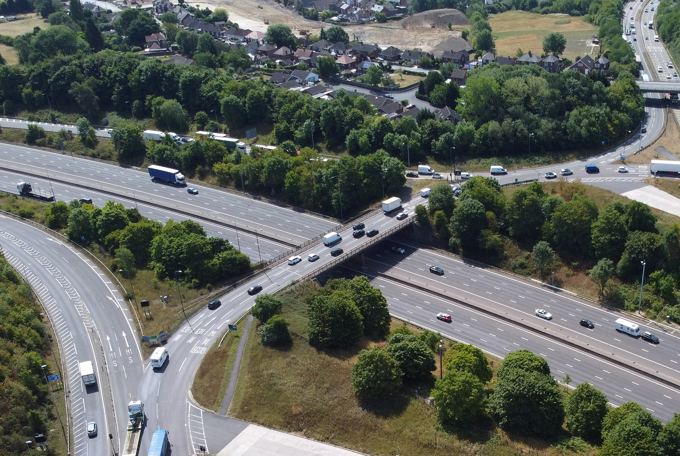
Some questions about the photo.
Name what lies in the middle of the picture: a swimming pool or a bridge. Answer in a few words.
bridge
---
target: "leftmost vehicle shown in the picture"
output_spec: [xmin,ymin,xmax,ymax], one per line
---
[14,184,52,199]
